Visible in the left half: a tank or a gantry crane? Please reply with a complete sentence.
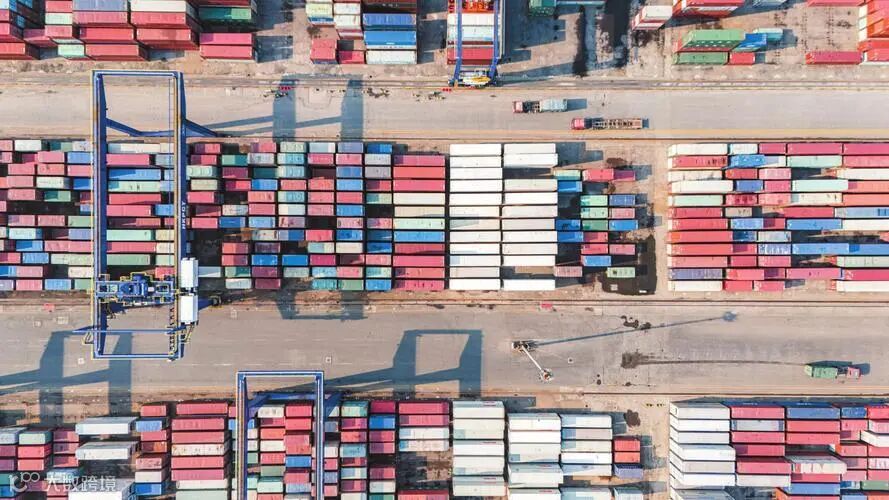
Visible in the left half is a gantry crane.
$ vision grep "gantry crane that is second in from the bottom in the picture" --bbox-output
[74,69,223,359]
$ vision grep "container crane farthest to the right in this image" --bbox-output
[447,0,503,88]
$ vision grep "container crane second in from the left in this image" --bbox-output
[232,372,343,500]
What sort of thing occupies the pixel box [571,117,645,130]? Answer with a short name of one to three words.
vehicle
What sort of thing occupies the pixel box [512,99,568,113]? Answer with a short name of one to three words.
vehicle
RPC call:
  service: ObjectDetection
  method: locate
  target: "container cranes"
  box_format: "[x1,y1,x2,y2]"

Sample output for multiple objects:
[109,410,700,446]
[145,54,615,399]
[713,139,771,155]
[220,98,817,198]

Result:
[232,372,343,500]
[447,0,503,88]
[74,69,223,359]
